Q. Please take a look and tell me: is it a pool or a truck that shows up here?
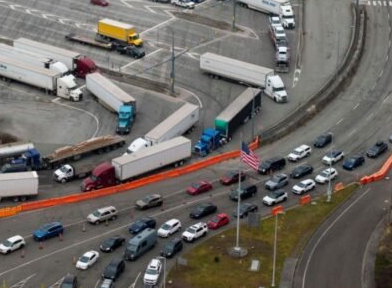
truck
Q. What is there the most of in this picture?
paved ground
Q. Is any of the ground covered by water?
No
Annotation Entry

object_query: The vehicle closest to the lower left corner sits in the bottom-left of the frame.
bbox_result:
[0,235,26,254]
